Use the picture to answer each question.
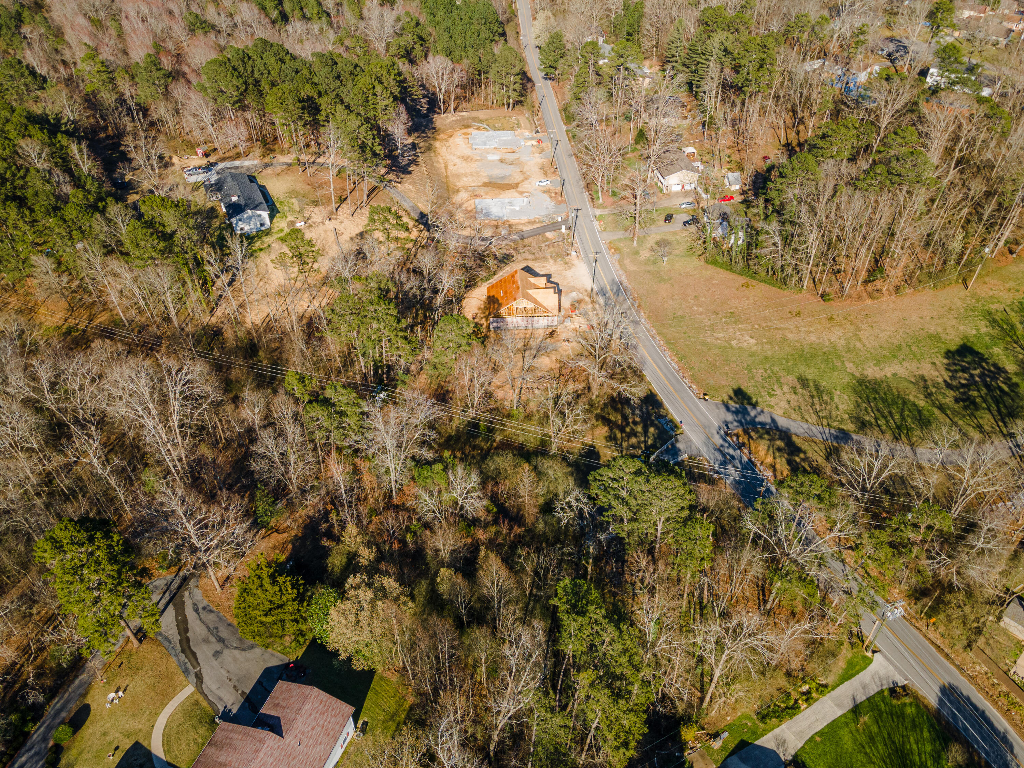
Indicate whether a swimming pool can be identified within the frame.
No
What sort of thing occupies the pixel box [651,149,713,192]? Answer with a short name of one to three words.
house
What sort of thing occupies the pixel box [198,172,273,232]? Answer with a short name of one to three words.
house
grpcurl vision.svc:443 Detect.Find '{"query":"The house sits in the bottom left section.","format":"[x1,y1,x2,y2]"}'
[190,681,356,768]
